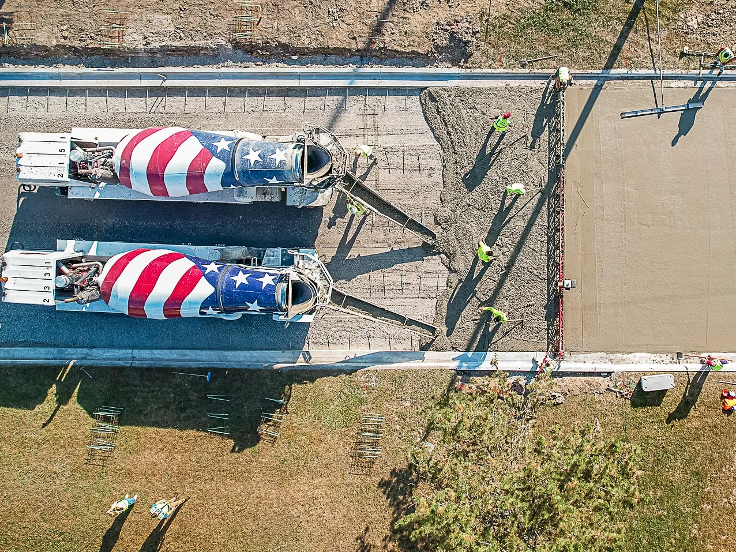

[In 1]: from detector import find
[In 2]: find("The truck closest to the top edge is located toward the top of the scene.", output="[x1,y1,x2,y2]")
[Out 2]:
[16,127,441,251]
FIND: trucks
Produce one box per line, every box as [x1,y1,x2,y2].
[16,127,441,251]
[1,237,441,344]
